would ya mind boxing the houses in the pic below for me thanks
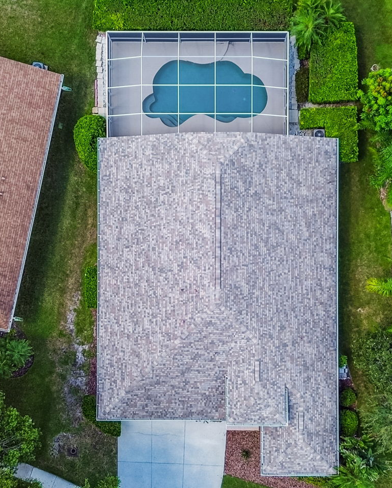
[95,130,341,478]
[0,56,66,333]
